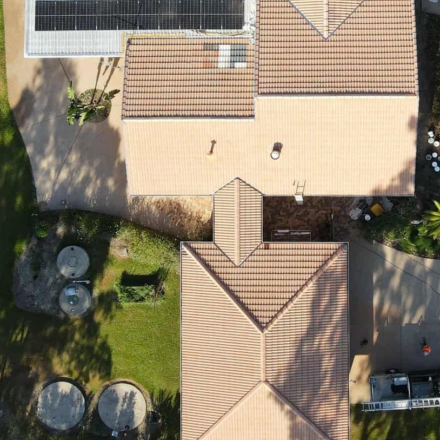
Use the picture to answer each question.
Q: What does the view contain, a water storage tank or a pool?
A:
water storage tank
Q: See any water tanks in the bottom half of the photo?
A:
Yes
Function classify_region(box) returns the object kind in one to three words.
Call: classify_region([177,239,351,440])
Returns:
building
